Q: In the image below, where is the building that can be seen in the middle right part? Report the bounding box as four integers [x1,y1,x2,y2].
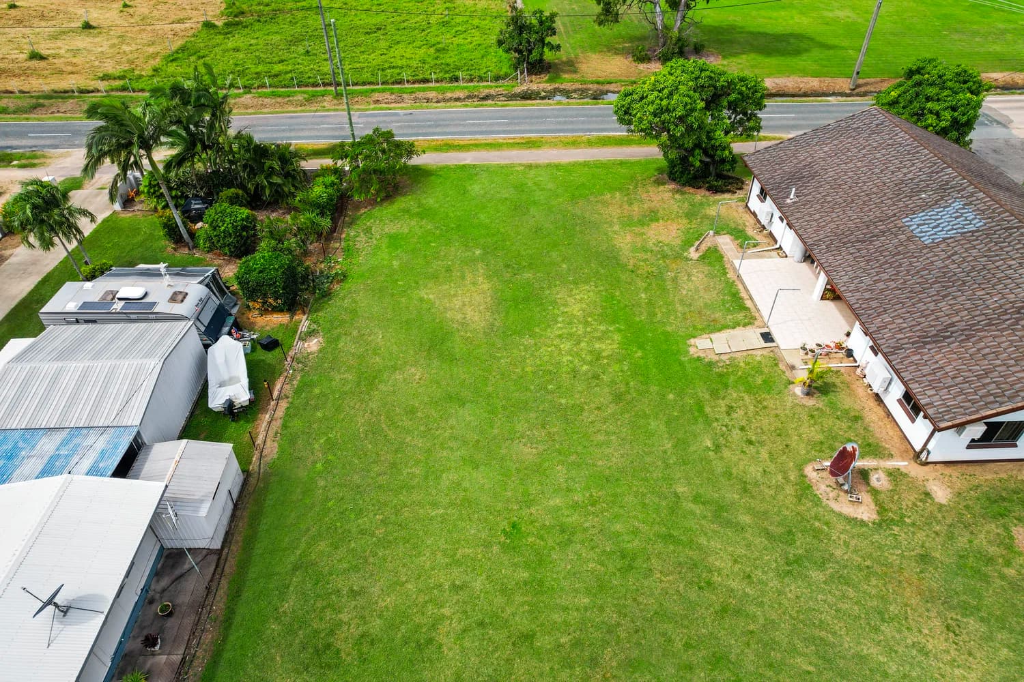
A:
[735,105,1024,458]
